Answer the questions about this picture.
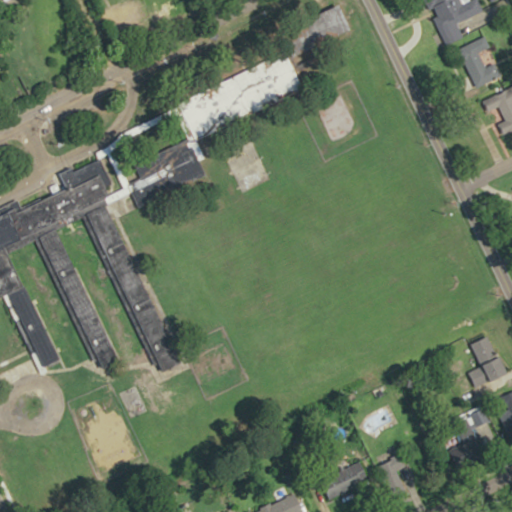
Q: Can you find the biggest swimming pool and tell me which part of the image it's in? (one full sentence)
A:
The biggest swimming pool appears toward the bottom right of the photo.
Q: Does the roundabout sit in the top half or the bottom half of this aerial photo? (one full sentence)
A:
The bottom half of the photo is where the roundabout is.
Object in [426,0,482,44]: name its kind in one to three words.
house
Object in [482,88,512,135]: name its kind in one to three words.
house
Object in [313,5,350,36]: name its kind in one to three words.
building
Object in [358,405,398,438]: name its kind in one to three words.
swimming pool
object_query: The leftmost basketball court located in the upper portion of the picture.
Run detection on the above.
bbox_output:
[228,142,270,192]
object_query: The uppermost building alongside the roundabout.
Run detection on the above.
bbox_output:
[0,161,178,375]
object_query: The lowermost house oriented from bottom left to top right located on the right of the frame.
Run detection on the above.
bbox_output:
[326,462,366,500]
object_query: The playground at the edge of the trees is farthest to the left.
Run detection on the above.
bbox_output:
[68,383,148,470]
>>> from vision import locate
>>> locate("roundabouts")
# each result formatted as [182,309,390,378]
[0,374,64,436]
